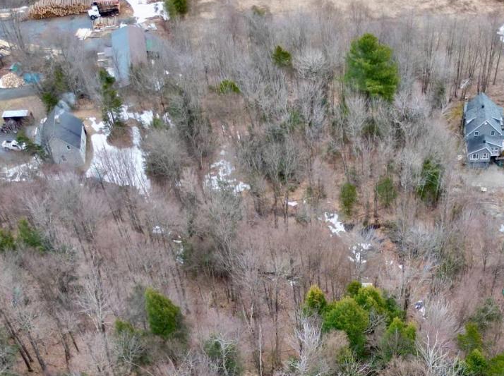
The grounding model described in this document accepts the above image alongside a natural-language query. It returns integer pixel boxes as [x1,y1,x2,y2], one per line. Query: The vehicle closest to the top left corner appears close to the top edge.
[86,2,121,21]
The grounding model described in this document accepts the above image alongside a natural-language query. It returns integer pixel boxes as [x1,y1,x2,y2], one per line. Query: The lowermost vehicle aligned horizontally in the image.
[0,138,29,151]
